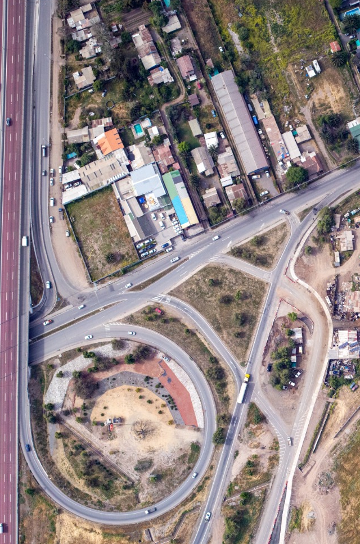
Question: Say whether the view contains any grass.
Yes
